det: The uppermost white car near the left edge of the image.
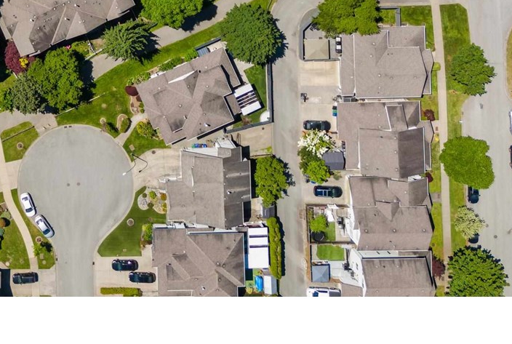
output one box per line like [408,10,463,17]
[19,191,35,216]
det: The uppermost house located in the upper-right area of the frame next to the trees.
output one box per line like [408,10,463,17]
[330,24,431,98]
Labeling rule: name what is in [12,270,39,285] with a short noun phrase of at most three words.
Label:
car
